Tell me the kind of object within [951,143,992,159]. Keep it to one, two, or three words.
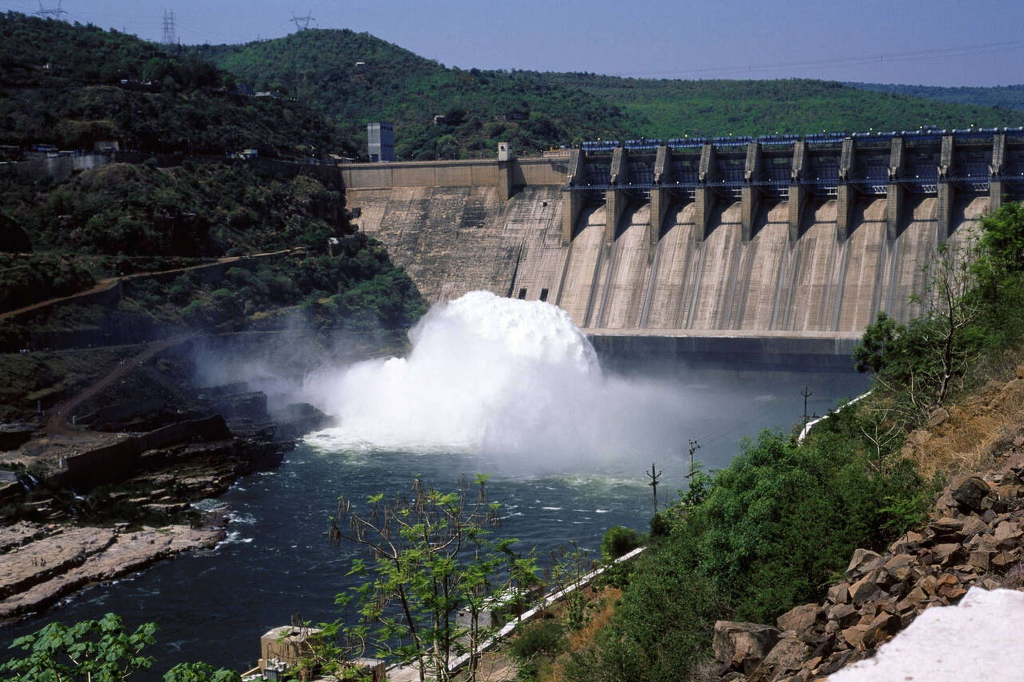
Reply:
bridge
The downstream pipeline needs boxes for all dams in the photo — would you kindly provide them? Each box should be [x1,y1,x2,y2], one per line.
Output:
[334,124,1024,363]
